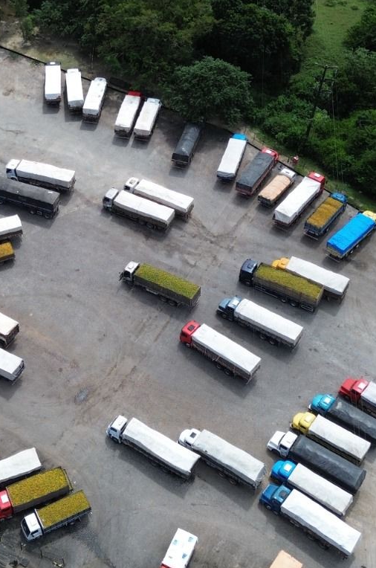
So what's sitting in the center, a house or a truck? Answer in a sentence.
What appears in the center is a truck.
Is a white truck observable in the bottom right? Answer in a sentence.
Yes, I can see a white truck in the bottom right.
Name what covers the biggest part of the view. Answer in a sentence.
Most of the picture is covered by paved ground.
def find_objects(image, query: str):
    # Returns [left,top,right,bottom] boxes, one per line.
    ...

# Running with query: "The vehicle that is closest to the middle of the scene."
[117,260,198,311]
